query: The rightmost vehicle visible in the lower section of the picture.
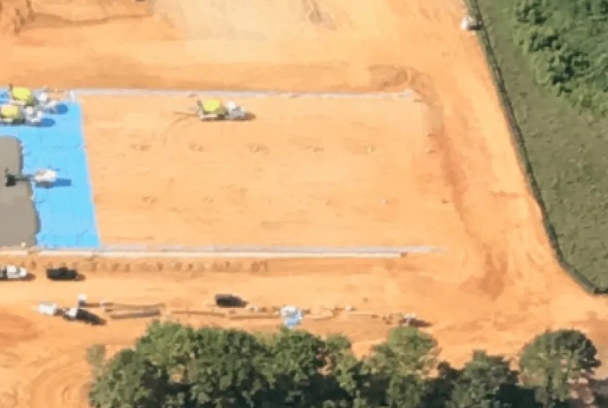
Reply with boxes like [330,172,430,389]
[213,294,242,309]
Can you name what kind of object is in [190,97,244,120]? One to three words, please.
truck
